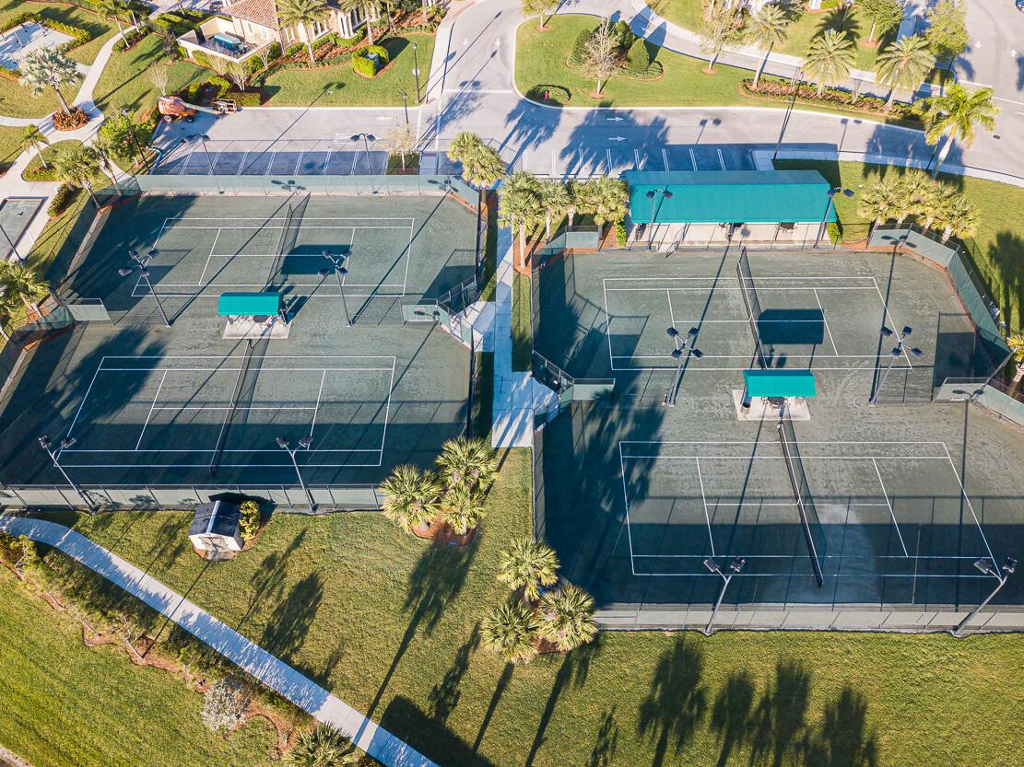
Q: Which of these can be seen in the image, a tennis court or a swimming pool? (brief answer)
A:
tennis court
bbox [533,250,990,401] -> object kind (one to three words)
tennis court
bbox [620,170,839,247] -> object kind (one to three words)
building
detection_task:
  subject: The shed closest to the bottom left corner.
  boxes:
[183,499,245,567]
